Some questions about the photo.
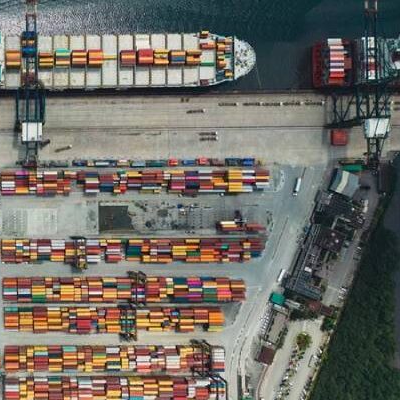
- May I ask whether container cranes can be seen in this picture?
Yes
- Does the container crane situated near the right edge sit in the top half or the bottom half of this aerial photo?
top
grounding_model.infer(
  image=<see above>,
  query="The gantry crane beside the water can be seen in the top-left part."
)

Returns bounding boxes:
[12,0,45,166]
